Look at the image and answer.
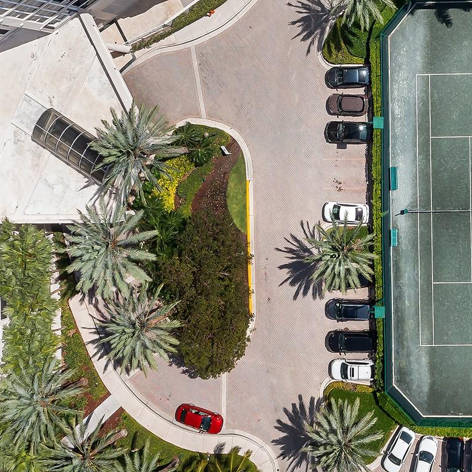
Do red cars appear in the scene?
Yes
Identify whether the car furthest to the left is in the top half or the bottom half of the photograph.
bottom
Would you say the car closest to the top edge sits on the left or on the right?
right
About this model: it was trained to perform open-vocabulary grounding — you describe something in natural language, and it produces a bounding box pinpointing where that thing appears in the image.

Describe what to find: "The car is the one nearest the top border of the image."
[324,64,370,89]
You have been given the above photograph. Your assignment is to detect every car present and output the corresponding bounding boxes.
[169,404,223,437]
[383,425,414,472]
[324,330,372,357]
[322,202,369,226]
[326,271,370,295]
[412,437,438,472]
[445,439,464,472]
[324,64,370,89]
[324,119,371,146]
[326,359,373,387]
[325,92,367,117]
[324,299,371,325]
